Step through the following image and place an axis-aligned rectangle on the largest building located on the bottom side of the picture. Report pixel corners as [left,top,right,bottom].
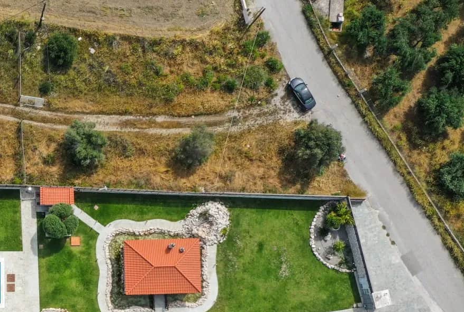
[122,238,203,311]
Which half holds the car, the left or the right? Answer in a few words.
right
